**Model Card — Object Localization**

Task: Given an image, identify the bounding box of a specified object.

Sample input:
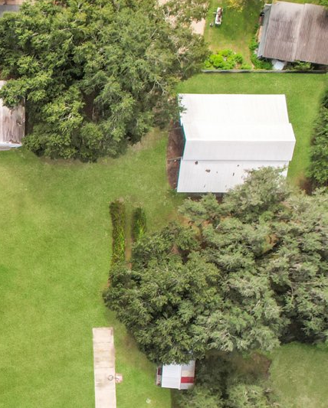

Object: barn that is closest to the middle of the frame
[168,95,296,193]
